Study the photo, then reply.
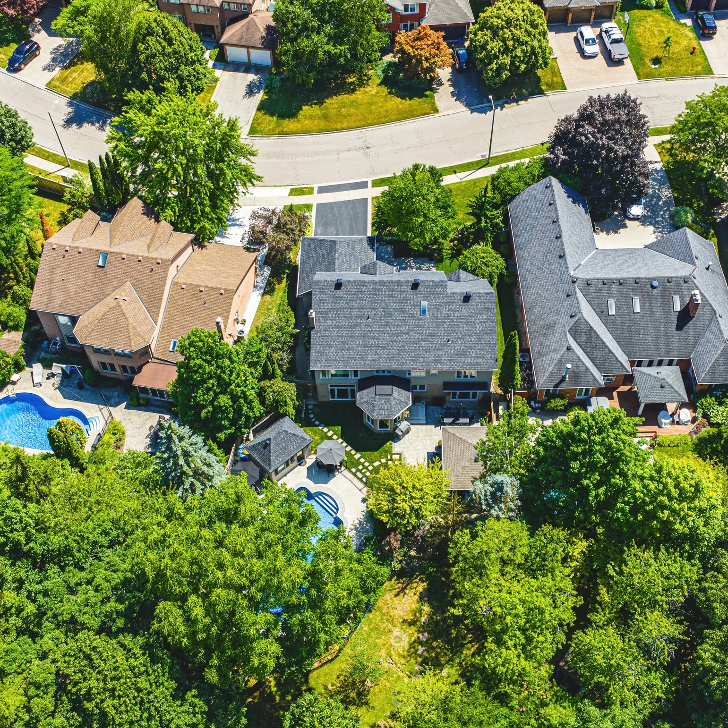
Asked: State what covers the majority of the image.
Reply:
trees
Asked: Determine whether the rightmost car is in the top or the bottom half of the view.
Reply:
top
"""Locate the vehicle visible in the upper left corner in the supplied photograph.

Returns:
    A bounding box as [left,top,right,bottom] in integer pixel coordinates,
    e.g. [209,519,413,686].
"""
[1,36,44,68]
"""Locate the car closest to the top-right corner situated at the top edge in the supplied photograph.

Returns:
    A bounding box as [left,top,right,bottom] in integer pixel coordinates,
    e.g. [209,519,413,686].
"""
[693,8,719,33]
